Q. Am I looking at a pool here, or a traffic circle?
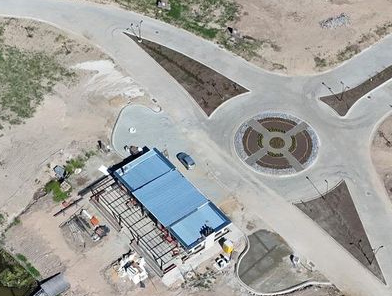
traffic circle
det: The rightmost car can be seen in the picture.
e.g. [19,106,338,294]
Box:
[176,153,196,170]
